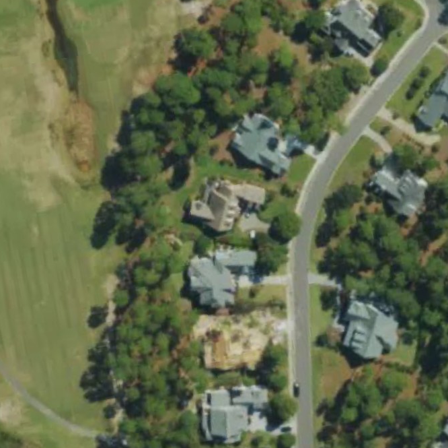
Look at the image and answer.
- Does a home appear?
Yes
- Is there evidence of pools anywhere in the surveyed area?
No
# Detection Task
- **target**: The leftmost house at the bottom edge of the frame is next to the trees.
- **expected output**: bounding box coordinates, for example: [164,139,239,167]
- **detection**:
[202,384,269,443]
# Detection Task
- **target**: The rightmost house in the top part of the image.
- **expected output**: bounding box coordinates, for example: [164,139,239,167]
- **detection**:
[415,56,448,127]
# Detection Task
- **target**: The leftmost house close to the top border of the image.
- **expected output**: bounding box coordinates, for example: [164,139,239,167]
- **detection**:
[323,0,388,60]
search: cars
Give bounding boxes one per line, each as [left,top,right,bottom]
[293,383,299,395]
[280,426,292,432]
